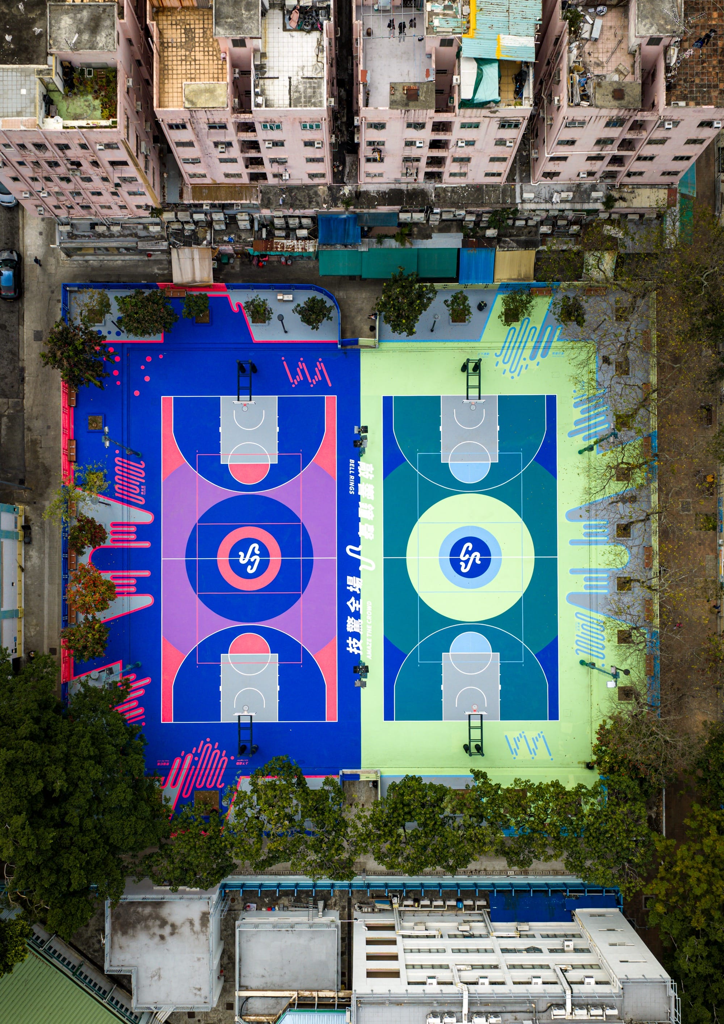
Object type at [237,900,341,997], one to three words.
building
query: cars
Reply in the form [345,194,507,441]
[0,174,16,203]
[0,246,18,300]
